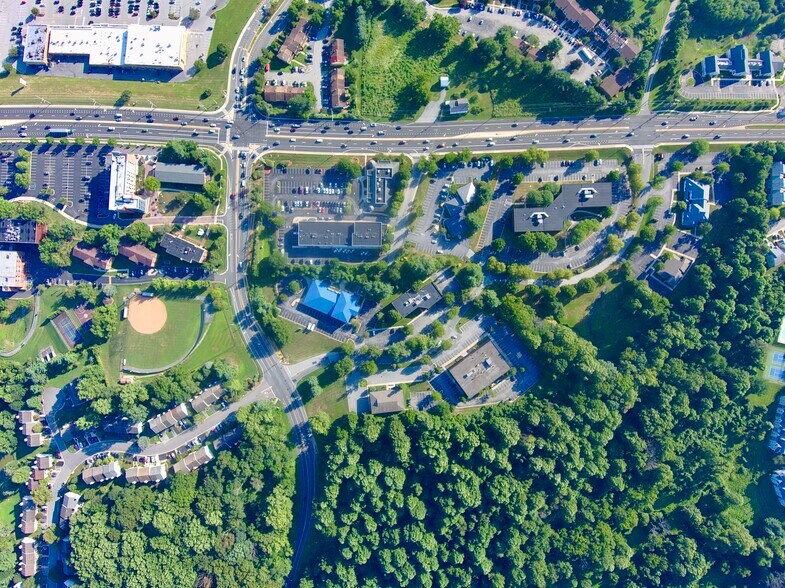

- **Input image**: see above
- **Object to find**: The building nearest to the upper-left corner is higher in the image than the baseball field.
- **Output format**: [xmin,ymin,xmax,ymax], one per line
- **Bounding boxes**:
[24,23,190,71]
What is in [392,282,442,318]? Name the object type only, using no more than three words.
building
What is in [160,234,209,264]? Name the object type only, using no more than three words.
building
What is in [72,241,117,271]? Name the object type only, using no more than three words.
house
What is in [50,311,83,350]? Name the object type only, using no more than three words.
tennis court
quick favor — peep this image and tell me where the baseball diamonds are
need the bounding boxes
[123,297,202,373]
